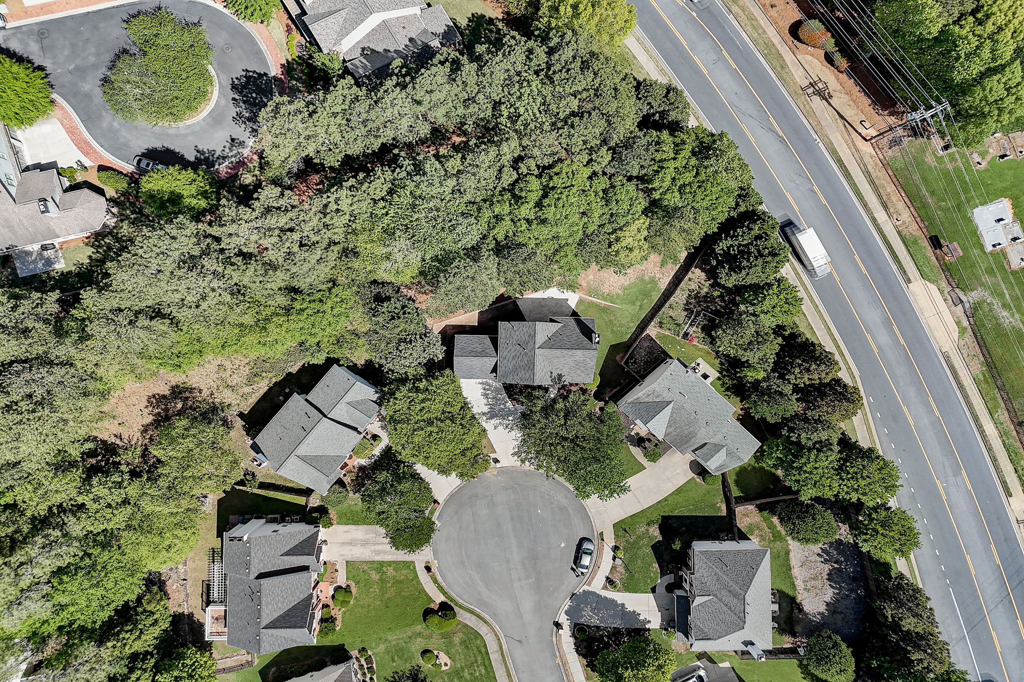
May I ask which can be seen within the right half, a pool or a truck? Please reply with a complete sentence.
It is a truck that can be seen within the right half.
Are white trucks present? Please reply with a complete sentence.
Yes, I can see a white truck in this picture.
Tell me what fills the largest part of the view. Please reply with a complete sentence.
Most of the picture is covered by trees.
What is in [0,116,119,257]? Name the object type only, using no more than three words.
house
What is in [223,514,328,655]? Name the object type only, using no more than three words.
house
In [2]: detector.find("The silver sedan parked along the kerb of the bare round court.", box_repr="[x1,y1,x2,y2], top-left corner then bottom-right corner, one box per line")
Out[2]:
[575,537,595,578]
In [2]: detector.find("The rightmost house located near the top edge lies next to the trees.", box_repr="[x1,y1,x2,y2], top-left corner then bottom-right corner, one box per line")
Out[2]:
[291,0,462,83]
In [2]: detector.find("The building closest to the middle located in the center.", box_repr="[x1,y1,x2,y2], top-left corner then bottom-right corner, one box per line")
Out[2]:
[454,317,603,385]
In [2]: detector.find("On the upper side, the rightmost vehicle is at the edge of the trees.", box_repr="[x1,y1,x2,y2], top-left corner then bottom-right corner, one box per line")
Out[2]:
[791,220,828,283]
